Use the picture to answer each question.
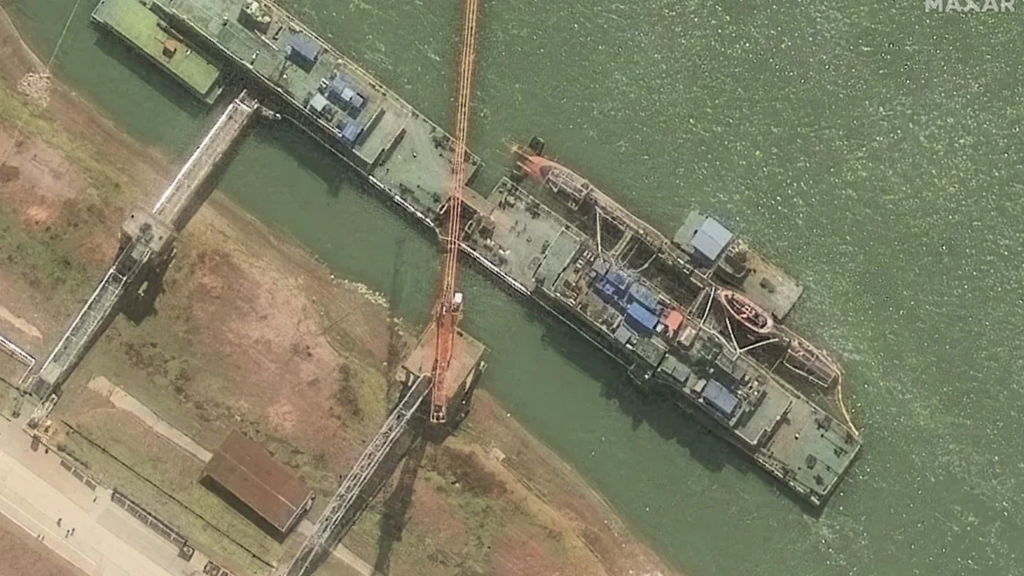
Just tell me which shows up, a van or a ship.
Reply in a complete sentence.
It is a ship that can be seen here.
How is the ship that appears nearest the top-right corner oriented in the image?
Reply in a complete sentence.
The ship that appears nearest the top-right corner has been laid out on a diagonal relative to the frame.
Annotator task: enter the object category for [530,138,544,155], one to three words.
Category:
boat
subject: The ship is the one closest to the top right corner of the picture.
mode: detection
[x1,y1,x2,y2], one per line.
[674,211,804,320]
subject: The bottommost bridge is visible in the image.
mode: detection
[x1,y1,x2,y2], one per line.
[285,375,436,576]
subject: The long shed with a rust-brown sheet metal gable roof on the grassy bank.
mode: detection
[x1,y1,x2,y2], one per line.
[204,430,312,530]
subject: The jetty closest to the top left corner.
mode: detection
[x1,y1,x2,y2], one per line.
[92,0,222,103]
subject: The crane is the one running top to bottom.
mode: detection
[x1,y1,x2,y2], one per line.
[430,0,477,422]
